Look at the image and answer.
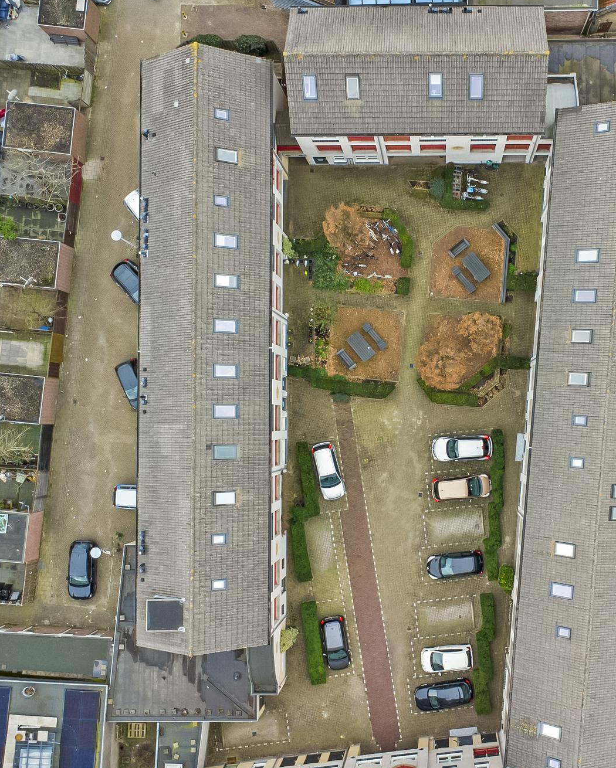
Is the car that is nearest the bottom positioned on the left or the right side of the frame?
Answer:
right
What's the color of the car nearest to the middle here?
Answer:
white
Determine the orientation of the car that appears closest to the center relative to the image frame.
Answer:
from top to bottom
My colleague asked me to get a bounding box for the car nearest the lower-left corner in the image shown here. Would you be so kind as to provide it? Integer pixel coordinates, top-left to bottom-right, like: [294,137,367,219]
[66,539,99,599]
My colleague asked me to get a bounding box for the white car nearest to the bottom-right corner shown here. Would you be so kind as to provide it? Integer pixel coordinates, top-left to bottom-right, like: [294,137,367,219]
[420,645,475,674]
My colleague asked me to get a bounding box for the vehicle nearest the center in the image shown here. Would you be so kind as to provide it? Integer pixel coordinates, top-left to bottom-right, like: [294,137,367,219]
[313,441,344,502]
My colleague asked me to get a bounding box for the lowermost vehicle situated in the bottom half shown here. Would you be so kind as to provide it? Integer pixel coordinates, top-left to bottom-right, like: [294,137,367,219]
[414,678,475,712]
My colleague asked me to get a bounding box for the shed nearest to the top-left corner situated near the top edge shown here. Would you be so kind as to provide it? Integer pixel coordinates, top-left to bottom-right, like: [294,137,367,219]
[36,0,101,43]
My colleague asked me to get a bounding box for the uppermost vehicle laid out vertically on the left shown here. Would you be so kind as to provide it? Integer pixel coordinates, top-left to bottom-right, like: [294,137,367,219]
[124,188,137,218]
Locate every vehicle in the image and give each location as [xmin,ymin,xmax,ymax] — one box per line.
[432,434,493,464]
[420,645,475,674]
[425,550,485,580]
[124,188,137,218]
[320,616,351,668]
[114,257,136,305]
[414,678,475,712]
[110,484,135,508]
[66,539,99,599]
[313,441,344,502]
[432,474,492,502]
[115,358,136,416]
